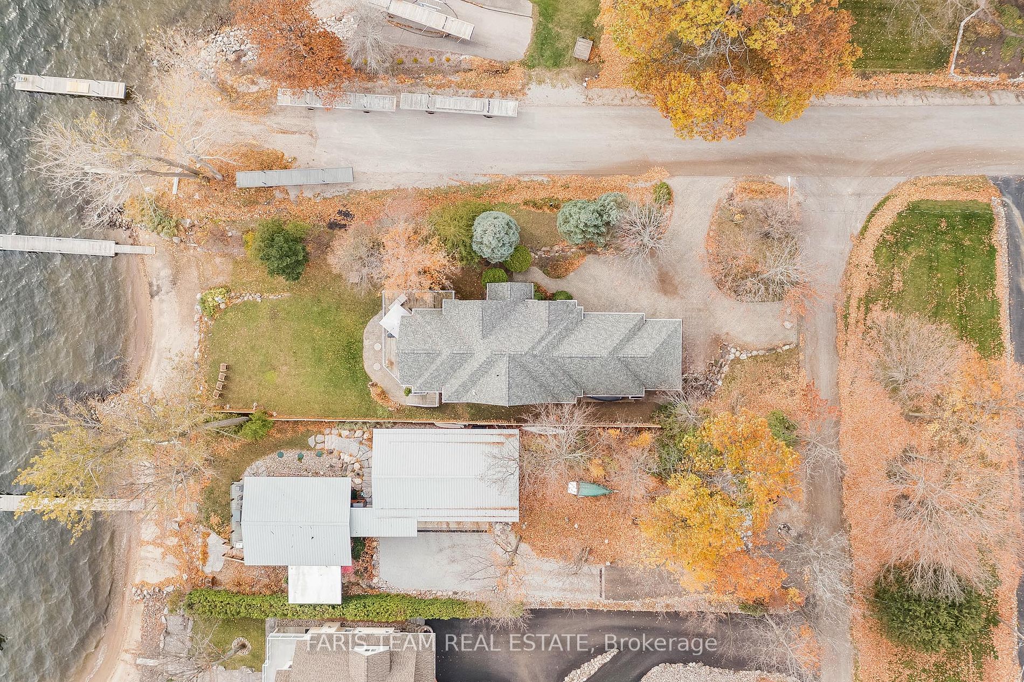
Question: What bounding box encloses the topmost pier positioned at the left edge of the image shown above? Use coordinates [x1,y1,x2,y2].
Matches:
[14,74,128,99]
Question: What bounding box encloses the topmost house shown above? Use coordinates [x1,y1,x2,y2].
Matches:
[396,282,683,405]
